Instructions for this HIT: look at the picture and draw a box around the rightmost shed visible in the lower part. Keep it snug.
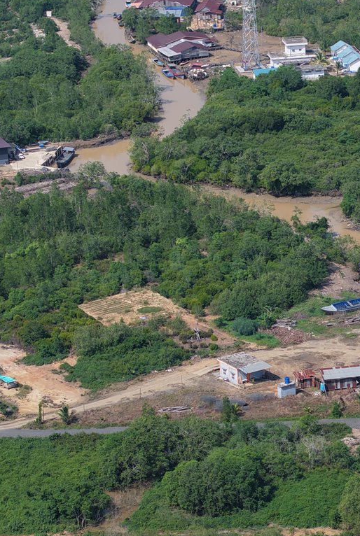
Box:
[316,362,360,391]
